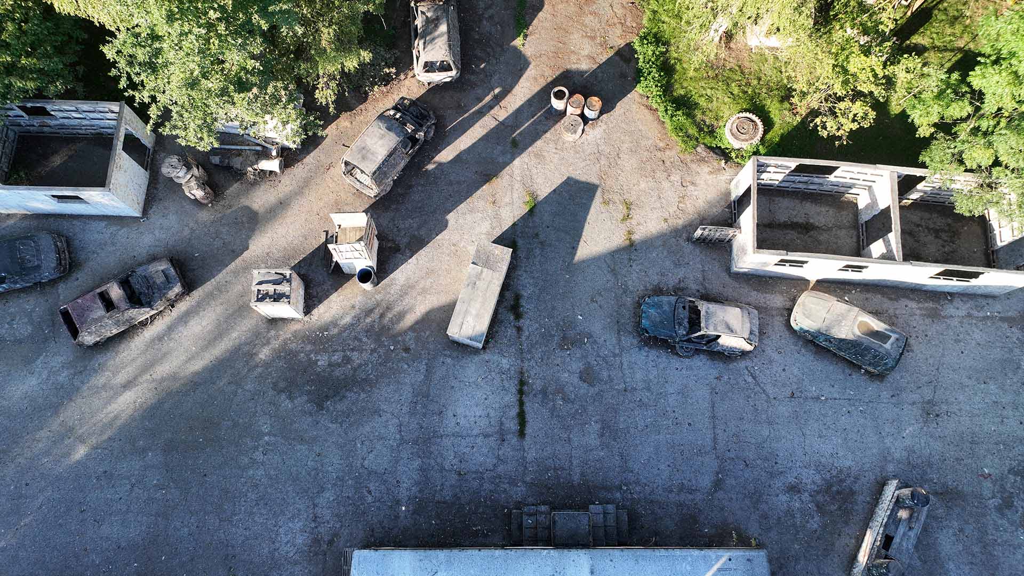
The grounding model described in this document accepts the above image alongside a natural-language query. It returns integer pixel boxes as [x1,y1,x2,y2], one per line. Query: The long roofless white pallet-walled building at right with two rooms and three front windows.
[733,154,1024,301]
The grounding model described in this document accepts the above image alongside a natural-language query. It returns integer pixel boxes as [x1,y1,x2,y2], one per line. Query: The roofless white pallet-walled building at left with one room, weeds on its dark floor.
[0,99,156,215]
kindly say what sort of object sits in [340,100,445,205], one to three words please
car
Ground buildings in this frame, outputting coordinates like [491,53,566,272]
[0,99,156,215]
[733,154,1024,301]
[349,548,770,576]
